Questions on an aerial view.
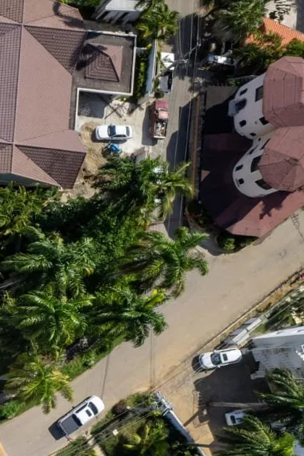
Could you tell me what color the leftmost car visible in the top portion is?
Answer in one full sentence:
The color of the leftmost car visible in the top portion is white.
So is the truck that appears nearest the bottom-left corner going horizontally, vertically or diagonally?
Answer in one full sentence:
What the image shows is the truck that appears nearest the bottom-left corner lying diagonally.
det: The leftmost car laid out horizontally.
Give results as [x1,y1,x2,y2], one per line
[90,123,132,143]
